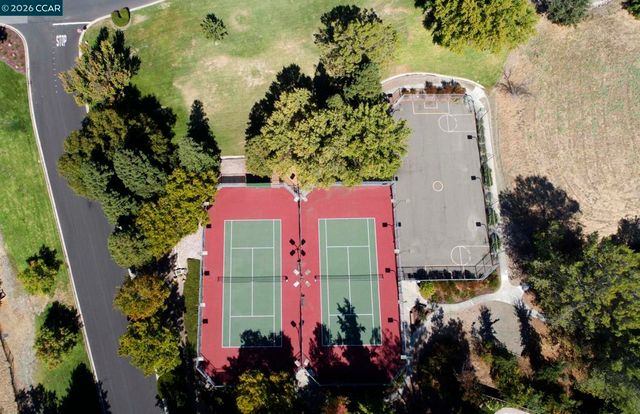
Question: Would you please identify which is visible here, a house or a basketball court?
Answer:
basketball court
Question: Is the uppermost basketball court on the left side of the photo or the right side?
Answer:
right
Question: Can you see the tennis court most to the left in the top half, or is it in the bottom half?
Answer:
bottom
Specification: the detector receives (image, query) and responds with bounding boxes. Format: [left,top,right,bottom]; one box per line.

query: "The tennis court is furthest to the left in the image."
[201,187,302,385]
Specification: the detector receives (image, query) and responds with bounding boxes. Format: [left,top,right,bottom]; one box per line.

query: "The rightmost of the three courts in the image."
[390,96,493,281]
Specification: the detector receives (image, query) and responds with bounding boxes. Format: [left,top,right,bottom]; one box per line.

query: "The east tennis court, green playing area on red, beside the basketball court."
[299,184,402,382]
